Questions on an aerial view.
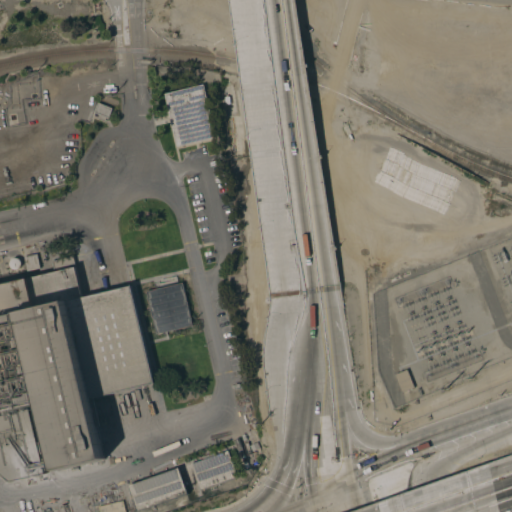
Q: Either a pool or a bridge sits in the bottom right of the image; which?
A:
bridge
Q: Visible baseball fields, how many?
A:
0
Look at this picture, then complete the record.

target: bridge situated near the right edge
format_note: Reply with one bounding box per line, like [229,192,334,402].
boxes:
[348,454,512,512]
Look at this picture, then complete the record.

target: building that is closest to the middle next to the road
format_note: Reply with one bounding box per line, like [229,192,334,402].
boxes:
[148,284,193,332]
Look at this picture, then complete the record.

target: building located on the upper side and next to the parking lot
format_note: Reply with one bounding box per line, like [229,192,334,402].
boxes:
[165,85,214,148]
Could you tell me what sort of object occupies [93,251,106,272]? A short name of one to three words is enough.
vehicle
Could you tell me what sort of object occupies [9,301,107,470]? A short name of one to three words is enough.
building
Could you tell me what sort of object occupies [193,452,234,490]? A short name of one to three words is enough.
shed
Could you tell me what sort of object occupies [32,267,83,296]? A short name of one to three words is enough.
building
